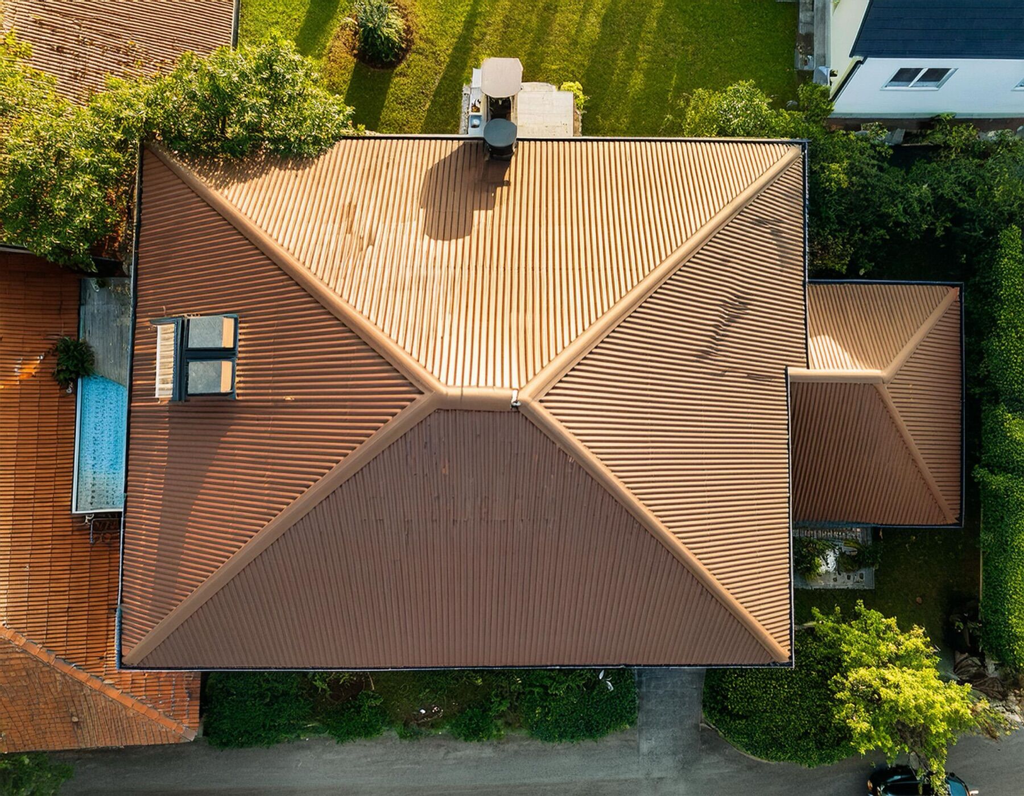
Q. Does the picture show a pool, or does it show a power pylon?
pool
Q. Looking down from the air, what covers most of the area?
buildings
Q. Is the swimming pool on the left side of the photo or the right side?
left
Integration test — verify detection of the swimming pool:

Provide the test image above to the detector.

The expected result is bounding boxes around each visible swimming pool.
[79,378,125,515]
